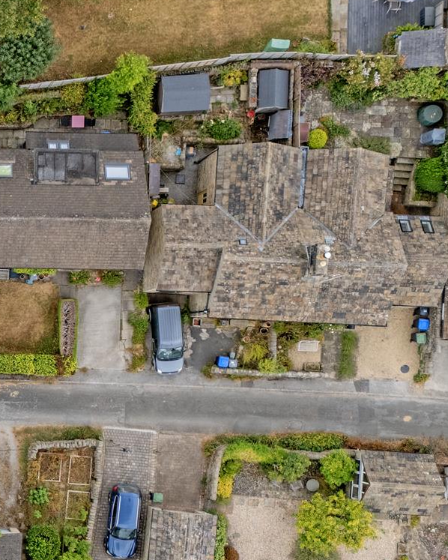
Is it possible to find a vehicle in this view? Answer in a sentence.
Yes, a vehicle is visible in the scene.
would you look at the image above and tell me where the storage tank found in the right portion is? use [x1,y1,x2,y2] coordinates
[408,102,444,131]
